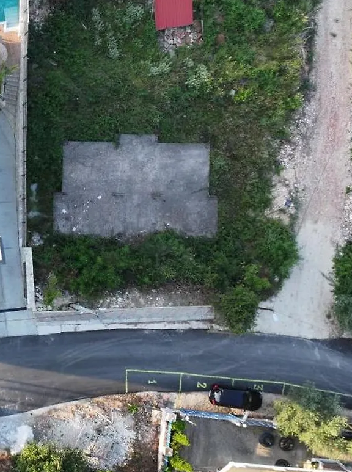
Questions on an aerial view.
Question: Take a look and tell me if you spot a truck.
No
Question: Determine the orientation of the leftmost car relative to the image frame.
from left to right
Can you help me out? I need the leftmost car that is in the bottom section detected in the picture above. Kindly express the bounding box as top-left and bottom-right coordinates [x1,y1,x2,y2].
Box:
[208,384,261,415]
